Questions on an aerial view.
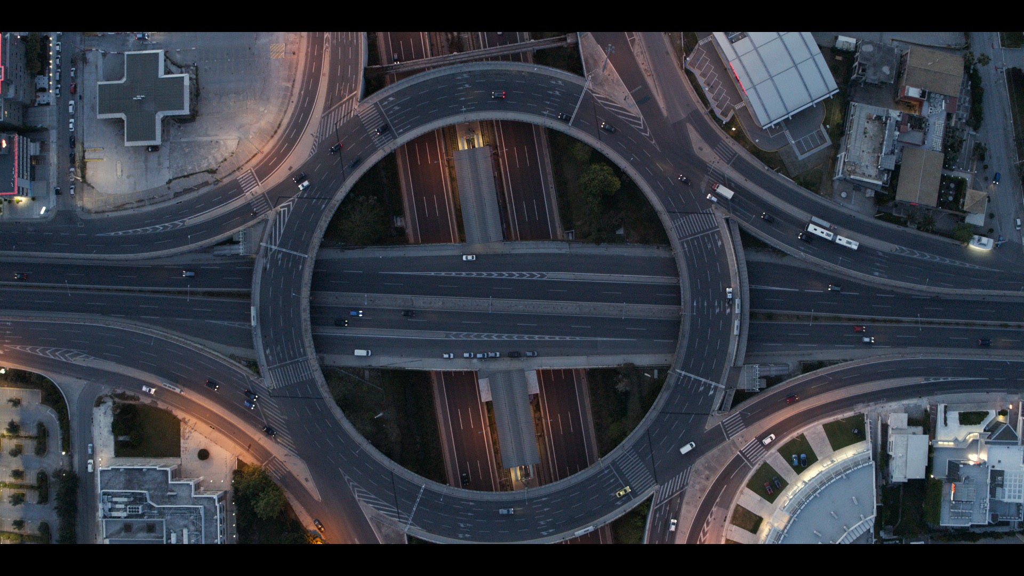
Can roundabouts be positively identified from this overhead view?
Yes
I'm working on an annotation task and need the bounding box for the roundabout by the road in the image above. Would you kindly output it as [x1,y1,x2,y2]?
[252,61,738,550]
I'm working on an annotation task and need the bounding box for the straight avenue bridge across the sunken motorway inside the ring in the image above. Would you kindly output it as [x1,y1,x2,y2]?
[315,240,677,370]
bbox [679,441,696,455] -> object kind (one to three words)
vehicle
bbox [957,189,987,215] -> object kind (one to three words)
shed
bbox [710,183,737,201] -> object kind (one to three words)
vehicle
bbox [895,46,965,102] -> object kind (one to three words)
house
